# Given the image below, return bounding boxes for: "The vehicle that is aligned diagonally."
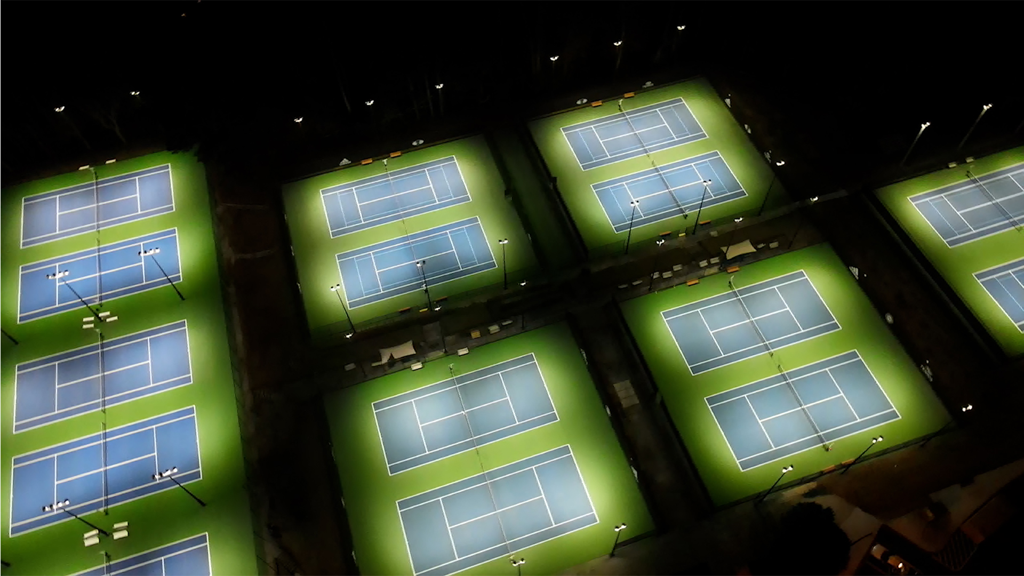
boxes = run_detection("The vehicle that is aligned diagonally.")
[872,543,913,576]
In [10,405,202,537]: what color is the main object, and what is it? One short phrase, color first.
blue tennis court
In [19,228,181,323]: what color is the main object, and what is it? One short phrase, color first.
blue tennis court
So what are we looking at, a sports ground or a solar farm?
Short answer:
sports ground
